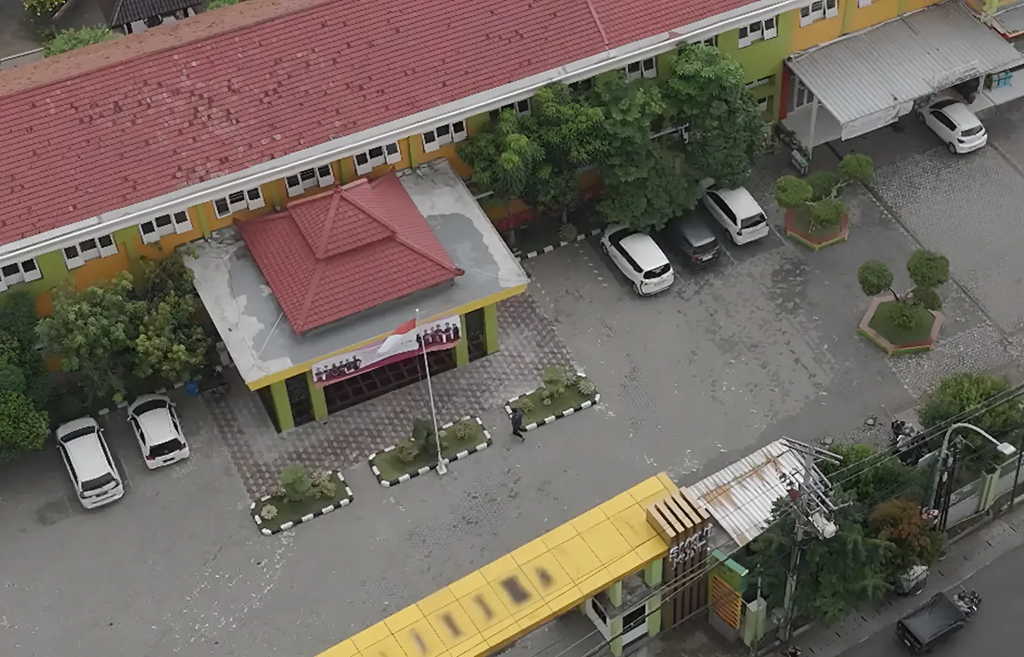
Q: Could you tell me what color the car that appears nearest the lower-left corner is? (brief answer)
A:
white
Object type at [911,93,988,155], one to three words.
car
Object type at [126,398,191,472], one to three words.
car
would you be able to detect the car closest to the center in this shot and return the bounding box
[601,222,676,297]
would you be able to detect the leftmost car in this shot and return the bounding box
[54,419,124,510]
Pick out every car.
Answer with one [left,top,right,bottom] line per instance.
[601,222,676,297]
[648,199,722,270]
[126,398,191,472]
[54,419,124,510]
[911,93,988,155]
[695,174,770,246]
